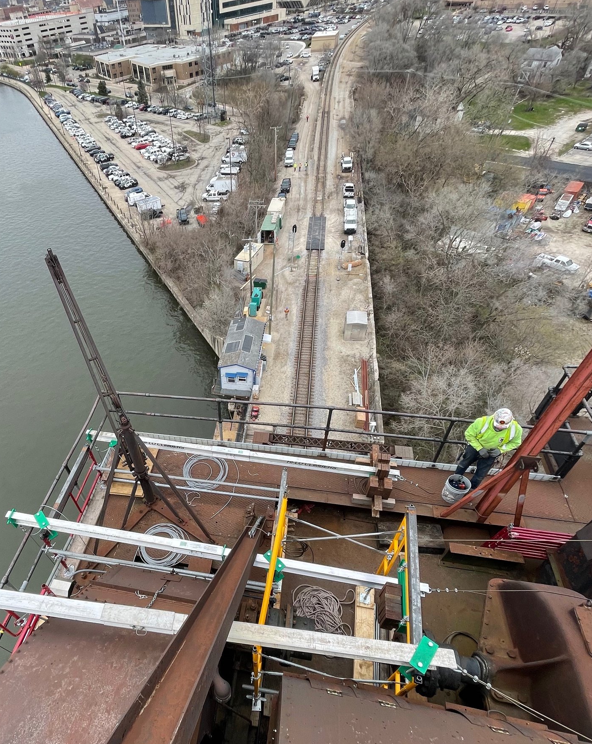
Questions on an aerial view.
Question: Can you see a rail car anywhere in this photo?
No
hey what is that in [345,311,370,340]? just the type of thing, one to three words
shed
